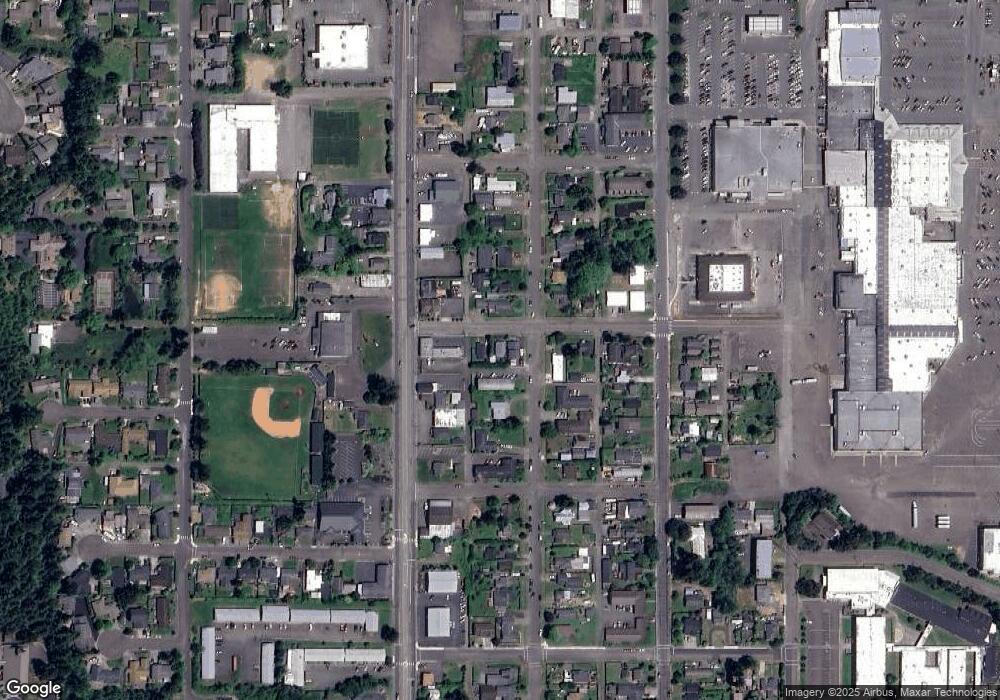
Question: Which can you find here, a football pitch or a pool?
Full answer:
Of the two, only a football pitch appears.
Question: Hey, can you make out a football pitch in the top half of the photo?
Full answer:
Yes, there is a football pitch in the top half of the photo.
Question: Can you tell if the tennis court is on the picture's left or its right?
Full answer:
The tennis court is on the left side of the image.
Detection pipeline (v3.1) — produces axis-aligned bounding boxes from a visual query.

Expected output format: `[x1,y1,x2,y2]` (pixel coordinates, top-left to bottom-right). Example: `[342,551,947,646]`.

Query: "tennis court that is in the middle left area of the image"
[94,269,115,313]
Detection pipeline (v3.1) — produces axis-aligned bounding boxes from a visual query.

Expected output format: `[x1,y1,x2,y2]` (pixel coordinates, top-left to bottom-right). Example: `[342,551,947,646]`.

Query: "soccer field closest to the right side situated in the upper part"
[311,103,389,180]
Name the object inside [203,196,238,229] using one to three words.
sports field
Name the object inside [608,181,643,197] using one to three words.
house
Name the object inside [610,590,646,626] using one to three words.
building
